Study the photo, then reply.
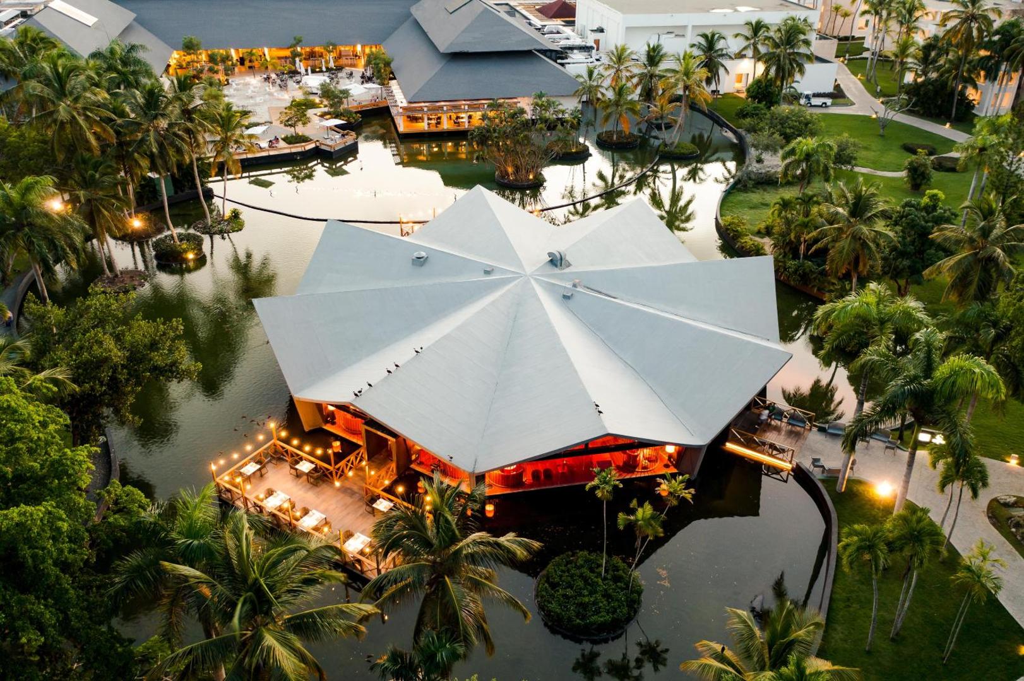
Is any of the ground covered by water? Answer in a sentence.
Yes, there's water in this view.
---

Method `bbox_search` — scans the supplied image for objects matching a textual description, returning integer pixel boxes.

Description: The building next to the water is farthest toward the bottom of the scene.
[254,184,789,501]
